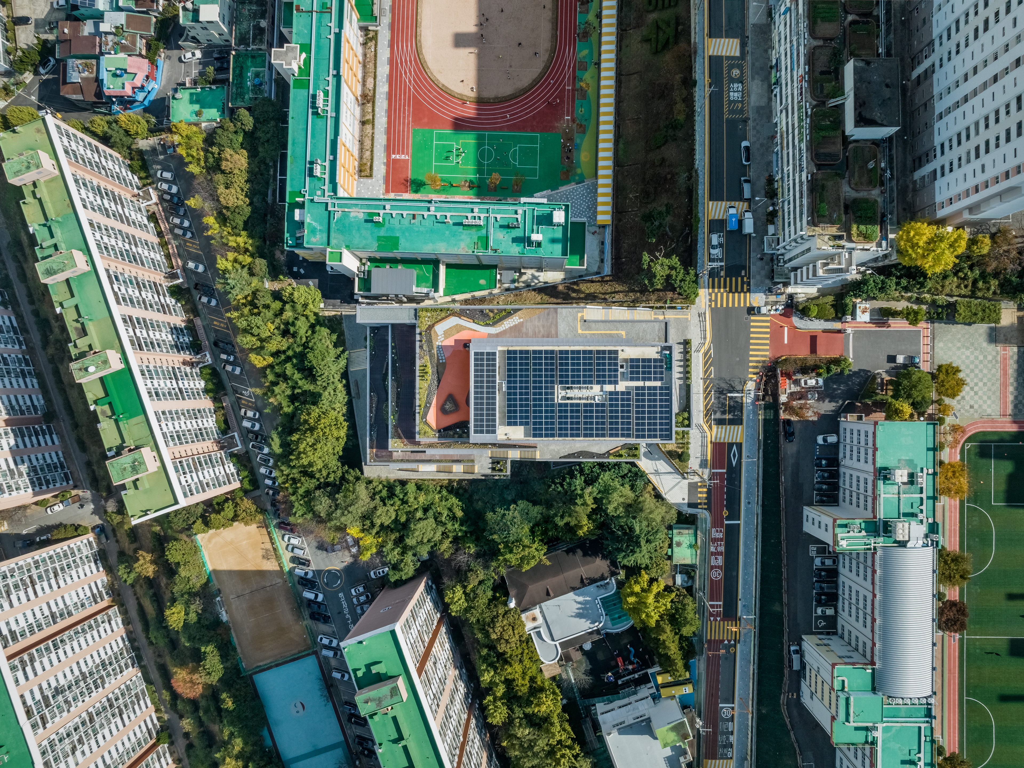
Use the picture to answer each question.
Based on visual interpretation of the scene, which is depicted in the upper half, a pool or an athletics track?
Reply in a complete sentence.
The feature located in the upper half is an athletics track.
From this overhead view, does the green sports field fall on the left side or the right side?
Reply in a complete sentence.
You can find the green sports field on the right side of the picture.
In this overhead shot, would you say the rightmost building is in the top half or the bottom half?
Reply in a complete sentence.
The rightmost building sits in the top half of the picture.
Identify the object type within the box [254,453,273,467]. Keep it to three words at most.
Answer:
car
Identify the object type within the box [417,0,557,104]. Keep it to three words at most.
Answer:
sports field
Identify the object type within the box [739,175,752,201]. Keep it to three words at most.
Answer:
vehicle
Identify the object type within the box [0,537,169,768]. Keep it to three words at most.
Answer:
building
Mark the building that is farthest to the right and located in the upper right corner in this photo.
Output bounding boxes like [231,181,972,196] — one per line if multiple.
[911,0,1024,229]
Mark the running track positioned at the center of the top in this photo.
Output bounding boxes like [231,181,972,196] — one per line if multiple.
[386,0,578,193]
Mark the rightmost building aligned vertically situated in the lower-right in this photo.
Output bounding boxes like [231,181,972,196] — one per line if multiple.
[801,418,941,768]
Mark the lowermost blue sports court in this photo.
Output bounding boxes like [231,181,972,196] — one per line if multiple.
[248,650,356,768]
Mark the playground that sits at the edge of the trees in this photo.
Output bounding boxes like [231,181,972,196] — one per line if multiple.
[571,629,664,695]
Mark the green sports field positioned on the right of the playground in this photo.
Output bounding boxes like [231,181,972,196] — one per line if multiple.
[959,431,1024,768]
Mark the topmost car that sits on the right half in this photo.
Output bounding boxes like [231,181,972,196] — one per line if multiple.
[740,141,752,165]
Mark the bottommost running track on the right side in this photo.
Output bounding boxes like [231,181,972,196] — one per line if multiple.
[948,420,1024,764]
